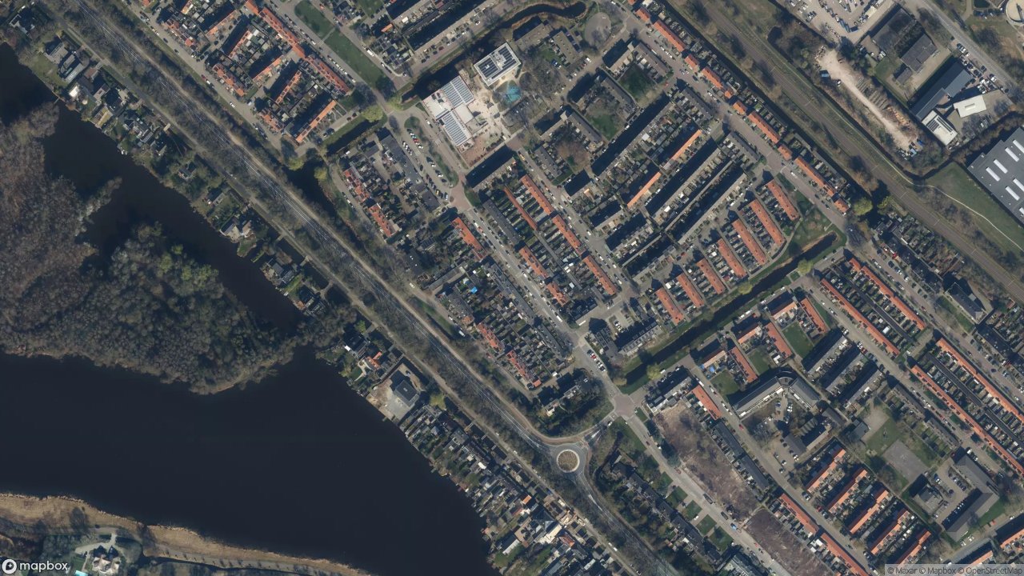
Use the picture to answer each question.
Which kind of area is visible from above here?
residential area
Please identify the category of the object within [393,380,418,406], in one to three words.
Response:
house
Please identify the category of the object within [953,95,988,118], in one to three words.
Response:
building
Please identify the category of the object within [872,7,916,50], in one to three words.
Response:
building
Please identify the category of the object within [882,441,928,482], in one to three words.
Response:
sports court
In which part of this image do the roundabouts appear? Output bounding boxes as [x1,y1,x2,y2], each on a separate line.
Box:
[552,444,585,477]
